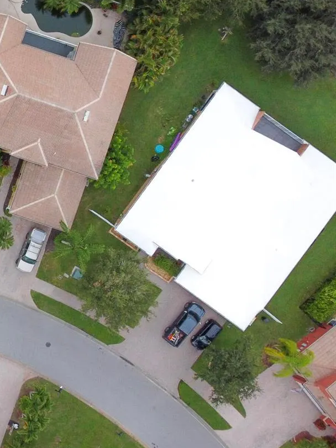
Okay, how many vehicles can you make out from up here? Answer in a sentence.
The photo contains 3 vehicles.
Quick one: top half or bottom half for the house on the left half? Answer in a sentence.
The top half of the photo is where the house on the left half is.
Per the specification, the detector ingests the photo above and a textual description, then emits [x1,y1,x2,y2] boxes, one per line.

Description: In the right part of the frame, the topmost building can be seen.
[111,81,336,332]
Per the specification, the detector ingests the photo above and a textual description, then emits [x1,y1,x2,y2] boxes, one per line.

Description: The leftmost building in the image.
[0,11,137,230]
